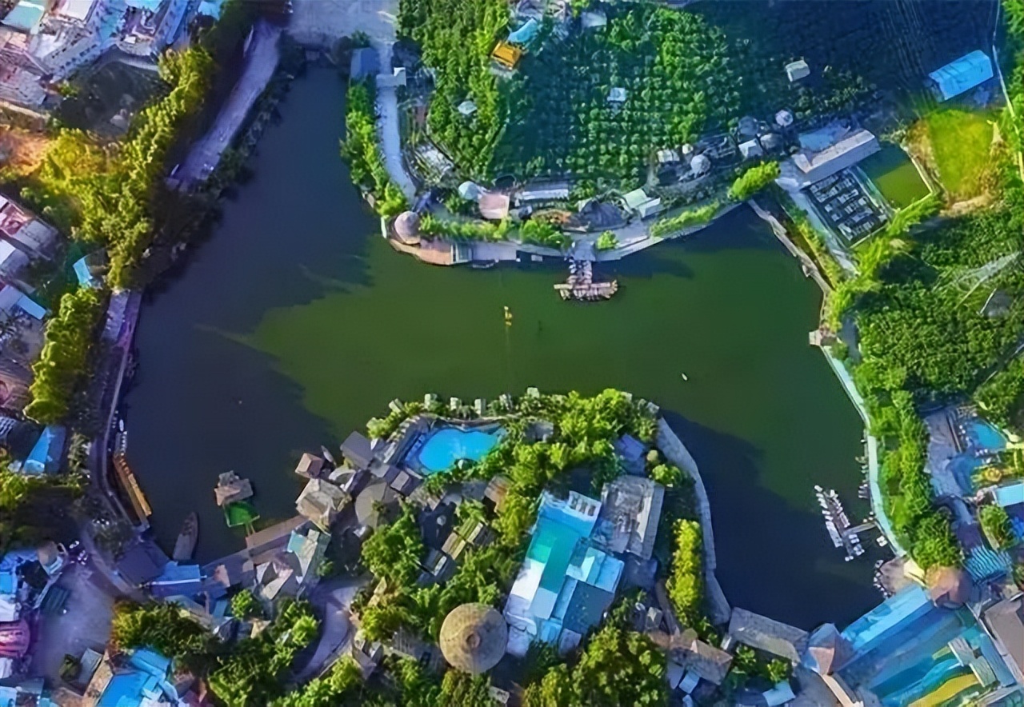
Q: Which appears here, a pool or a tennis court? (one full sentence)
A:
Visible in the photo is a pool.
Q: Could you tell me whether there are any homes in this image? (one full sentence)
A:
Yes, the image includes a home.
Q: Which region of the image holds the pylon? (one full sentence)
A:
The pylon is located in the right region of the scene.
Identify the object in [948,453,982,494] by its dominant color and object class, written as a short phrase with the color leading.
blue swimming pool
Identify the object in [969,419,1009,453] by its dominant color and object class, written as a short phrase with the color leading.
blue swimming pool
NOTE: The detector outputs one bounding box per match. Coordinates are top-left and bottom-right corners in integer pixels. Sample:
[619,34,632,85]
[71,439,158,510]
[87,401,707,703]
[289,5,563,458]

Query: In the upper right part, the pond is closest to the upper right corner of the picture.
[859,143,936,209]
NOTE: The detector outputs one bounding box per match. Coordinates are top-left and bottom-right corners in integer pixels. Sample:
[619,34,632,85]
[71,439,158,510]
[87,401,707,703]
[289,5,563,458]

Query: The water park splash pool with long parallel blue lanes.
[846,603,1003,707]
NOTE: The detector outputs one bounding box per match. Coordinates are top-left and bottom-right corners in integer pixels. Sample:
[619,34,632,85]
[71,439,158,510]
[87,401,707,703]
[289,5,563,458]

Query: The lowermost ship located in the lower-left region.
[169,511,194,562]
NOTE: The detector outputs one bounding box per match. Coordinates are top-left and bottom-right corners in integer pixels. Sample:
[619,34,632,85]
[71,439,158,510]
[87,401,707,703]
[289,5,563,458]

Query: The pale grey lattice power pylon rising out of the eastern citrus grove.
[948,250,1024,308]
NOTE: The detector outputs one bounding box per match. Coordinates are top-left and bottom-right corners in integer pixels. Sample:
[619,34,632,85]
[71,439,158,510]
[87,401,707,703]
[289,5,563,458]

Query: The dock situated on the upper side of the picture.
[554,261,610,289]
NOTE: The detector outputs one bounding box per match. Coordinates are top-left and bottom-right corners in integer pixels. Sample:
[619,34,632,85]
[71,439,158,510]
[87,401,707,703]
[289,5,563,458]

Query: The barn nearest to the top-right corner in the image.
[922,50,993,110]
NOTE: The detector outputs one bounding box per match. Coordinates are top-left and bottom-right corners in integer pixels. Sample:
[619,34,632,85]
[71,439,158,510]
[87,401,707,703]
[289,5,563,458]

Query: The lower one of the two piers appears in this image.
[825,490,877,565]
